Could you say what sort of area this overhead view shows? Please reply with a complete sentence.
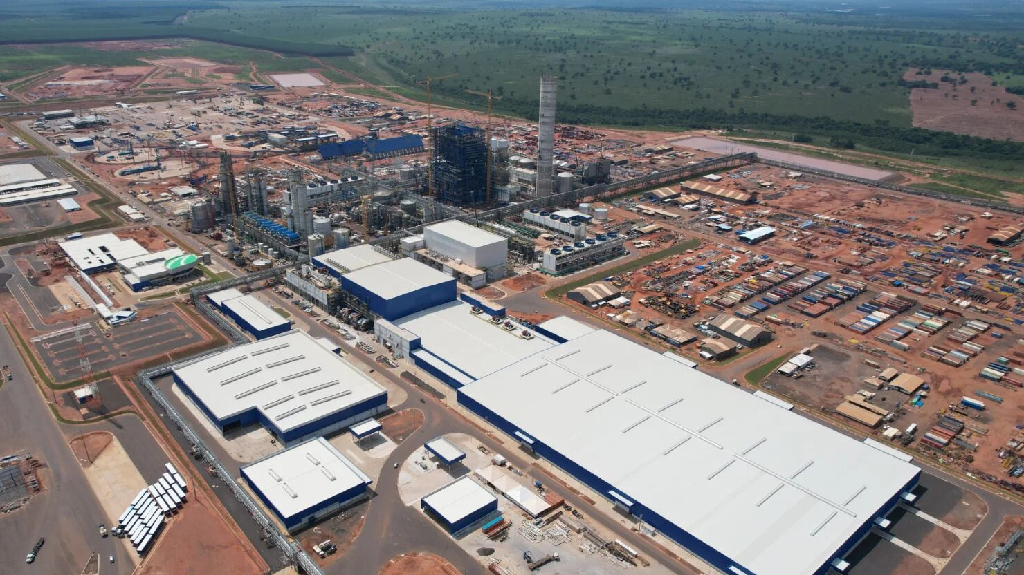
The picture captures an industrial area.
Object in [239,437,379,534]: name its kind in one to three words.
building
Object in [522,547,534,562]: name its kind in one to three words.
vehicle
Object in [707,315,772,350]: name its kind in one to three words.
shed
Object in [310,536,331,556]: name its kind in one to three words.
vehicle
